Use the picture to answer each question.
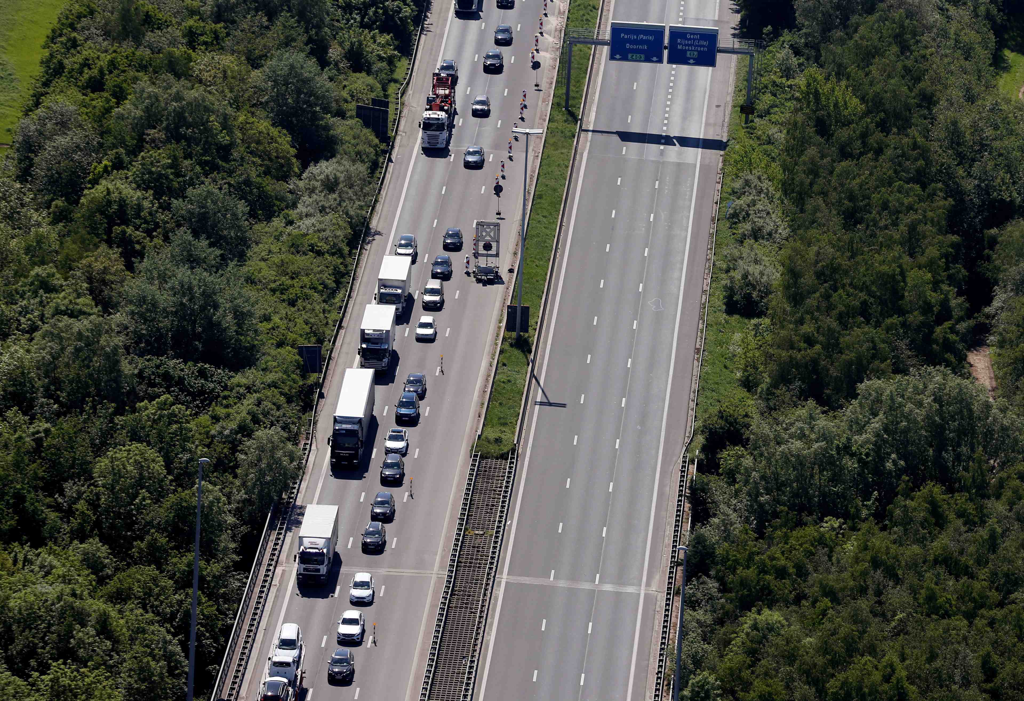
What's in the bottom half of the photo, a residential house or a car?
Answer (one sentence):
It is a car that can be seen in the bottom half of the photo.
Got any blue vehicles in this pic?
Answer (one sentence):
Yes, a blue vehicle appears in the view.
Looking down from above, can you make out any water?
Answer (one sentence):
No, no water is visible.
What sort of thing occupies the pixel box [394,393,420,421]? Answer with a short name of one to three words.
car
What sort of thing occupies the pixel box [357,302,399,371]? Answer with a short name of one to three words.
truck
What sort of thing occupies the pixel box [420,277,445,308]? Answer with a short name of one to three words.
vehicle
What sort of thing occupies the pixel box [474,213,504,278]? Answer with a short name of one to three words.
trailer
